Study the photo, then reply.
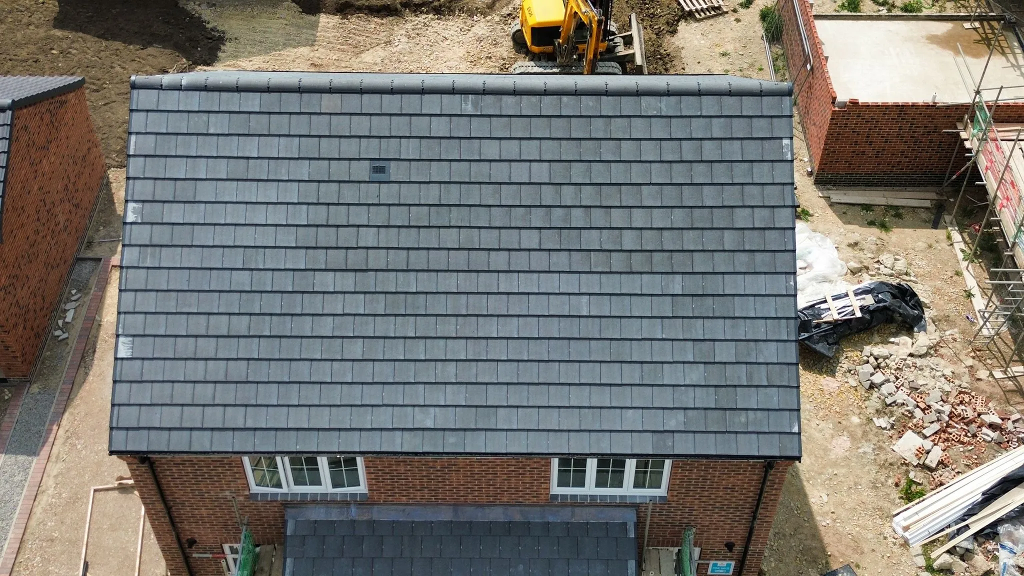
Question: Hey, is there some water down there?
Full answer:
No, there is no water in the image.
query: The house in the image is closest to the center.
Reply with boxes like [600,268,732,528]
[107,69,803,576]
